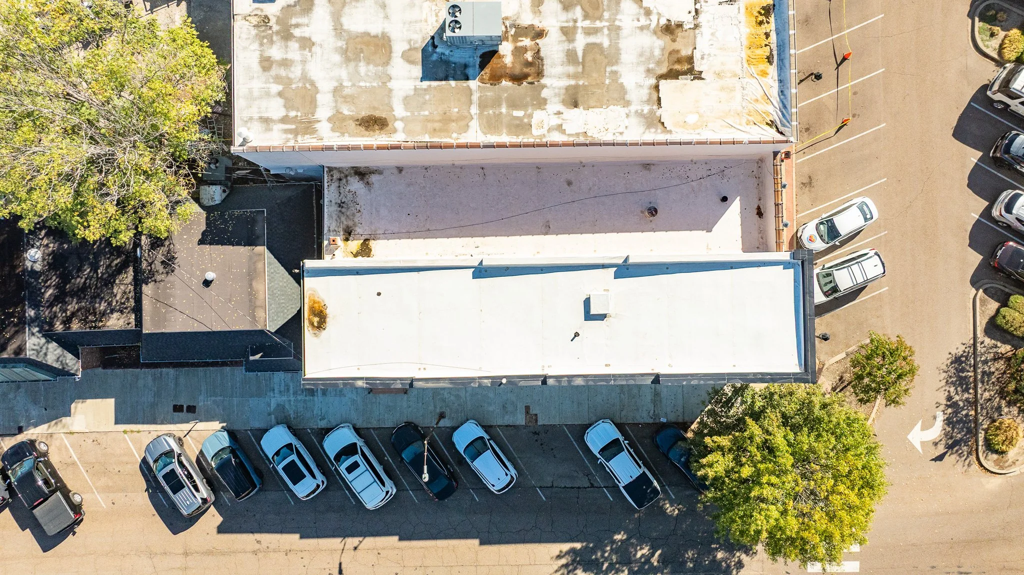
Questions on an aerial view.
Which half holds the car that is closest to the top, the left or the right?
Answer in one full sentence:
It is on the right.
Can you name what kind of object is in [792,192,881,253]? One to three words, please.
car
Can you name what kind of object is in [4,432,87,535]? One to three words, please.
truck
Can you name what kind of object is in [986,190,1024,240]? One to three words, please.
car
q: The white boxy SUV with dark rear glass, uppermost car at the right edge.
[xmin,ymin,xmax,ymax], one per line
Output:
[980,62,1024,122]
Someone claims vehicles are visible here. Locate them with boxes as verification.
[985,128,1024,181]
[814,247,888,304]
[452,416,520,497]
[390,418,461,505]
[984,241,1024,293]
[199,425,266,506]
[4,432,87,535]
[146,431,217,518]
[585,417,663,512]
[980,62,1024,122]
[986,190,1024,240]
[792,192,881,253]
[262,424,329,503]
[323,422,398,513]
